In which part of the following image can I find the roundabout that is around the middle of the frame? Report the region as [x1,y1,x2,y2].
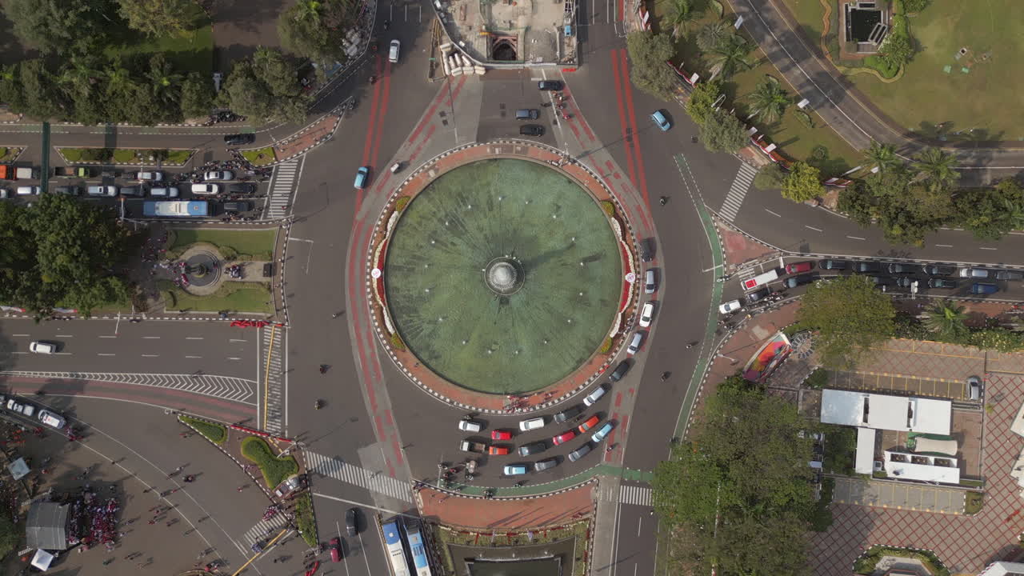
[367,139,641,413]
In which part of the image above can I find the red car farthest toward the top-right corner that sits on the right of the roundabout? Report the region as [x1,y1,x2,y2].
[785,262,811,274]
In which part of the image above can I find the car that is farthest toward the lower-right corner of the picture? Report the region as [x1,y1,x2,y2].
[966,376,980,400]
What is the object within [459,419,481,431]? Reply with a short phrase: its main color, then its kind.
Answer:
white vehicle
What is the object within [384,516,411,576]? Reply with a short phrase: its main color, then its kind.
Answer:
white bus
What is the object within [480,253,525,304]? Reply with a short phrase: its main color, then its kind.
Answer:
gray fountain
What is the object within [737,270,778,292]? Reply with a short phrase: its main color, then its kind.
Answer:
white vehicle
